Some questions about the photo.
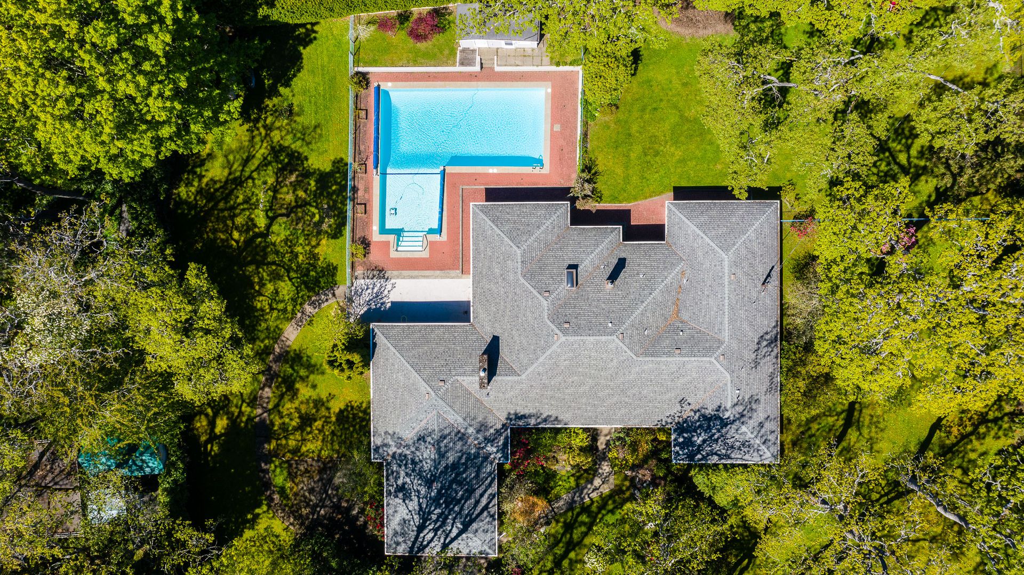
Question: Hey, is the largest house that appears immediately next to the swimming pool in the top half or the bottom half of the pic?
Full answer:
The largest house that appears immediately next to the swimming pool is in the bottom half of the image.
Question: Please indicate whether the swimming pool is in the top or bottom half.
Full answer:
You can find the swimming pool in the top half.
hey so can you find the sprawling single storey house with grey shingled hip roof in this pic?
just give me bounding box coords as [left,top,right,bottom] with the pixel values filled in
[369,199,781,557]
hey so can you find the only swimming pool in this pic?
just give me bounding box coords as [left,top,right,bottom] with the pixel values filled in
[373,82,551,257]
